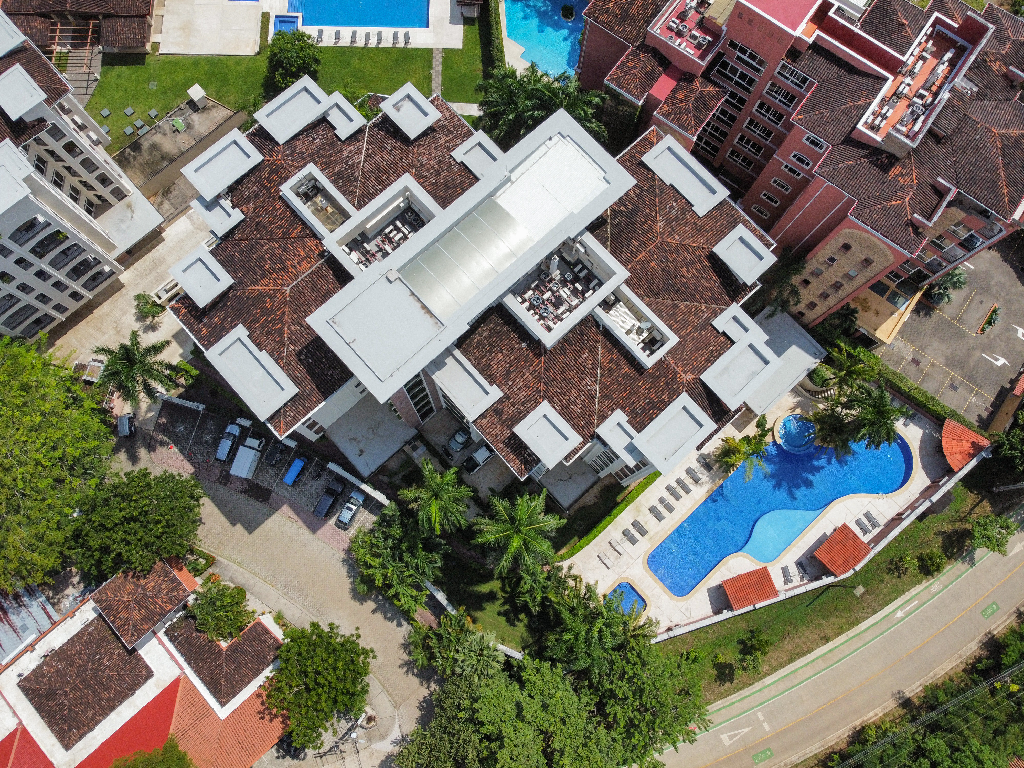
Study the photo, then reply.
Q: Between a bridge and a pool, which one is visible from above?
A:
pool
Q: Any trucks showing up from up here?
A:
Yes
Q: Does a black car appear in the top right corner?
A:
No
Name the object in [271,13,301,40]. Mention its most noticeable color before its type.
blue swimming pool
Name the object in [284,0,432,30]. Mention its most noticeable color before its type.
blue swimming pool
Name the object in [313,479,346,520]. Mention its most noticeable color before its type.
black car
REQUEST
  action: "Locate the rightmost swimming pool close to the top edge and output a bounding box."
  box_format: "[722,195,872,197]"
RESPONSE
[505,0,588,79]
